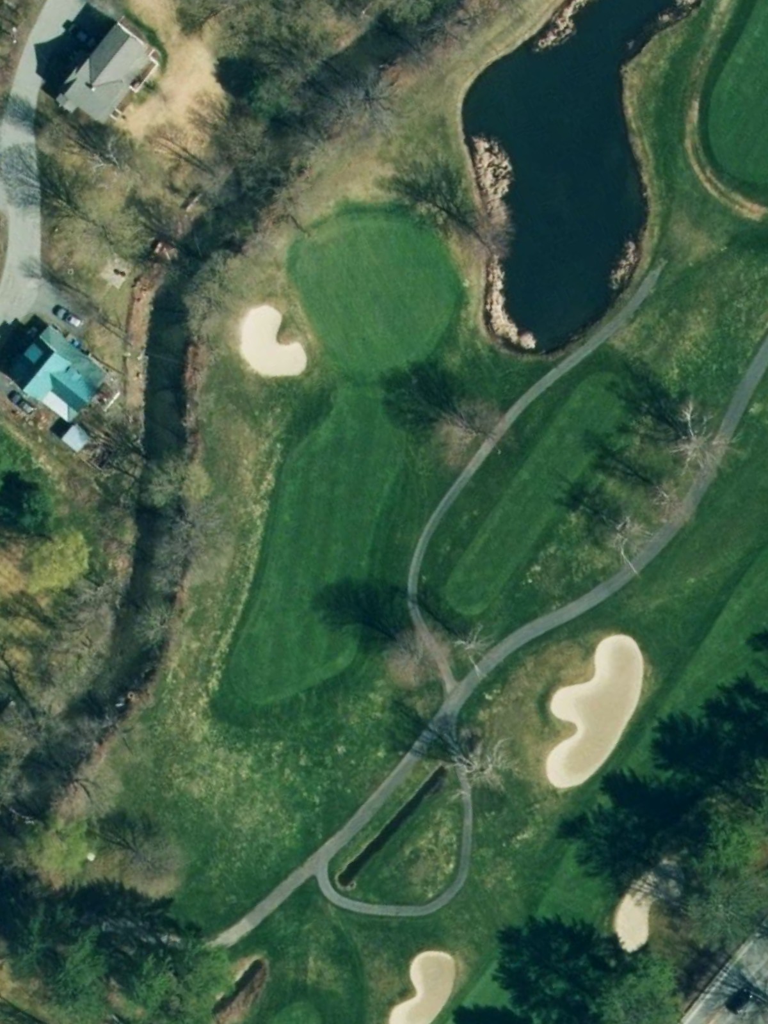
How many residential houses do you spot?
2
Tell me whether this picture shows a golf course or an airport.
golf course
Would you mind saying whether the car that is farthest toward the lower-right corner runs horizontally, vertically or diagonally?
diagonally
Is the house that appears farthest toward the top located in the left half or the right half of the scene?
left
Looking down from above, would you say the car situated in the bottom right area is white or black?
black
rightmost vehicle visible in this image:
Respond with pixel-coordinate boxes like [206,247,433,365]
[727,986,755,1016]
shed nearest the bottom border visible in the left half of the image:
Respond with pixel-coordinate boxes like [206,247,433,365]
[61,424,89,453]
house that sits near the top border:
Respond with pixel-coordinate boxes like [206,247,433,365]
[56,20,172,135]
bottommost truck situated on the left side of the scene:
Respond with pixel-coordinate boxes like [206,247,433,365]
[5,389,37,415]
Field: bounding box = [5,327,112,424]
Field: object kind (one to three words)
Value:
house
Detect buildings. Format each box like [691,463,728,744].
[61,424,89,453]
[5,327,112,424]
[56,20,172,135]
